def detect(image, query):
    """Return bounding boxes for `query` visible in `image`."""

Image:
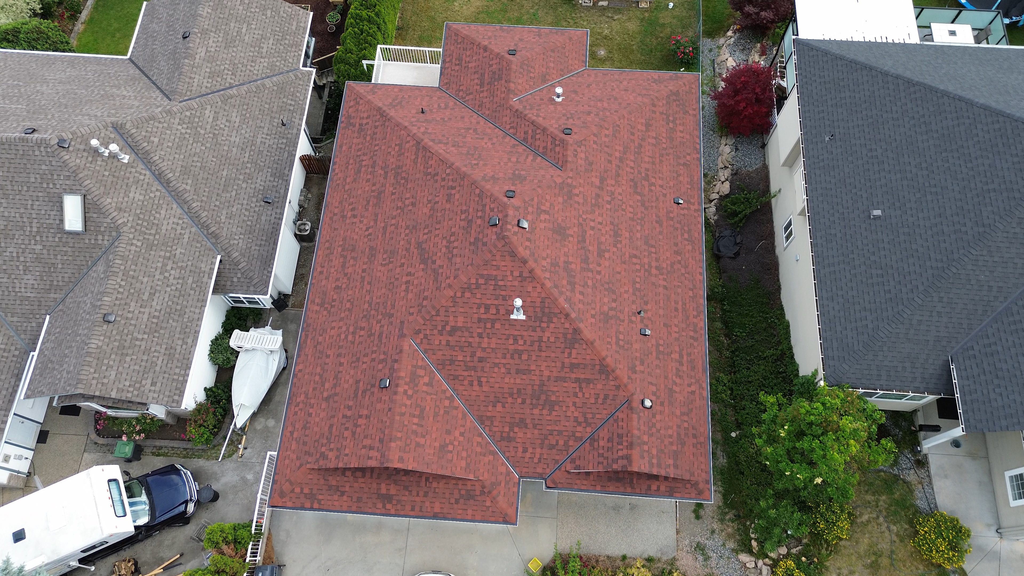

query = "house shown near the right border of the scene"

[766,0,1024,550]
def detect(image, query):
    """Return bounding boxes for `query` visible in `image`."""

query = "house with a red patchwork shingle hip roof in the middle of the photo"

[266,22,713,527]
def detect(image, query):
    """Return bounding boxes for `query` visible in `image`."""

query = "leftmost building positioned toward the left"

[0,0,322,511]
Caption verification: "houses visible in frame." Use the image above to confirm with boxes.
[0,0,322,511]
[766,0,1024,550]
[266,22,713,527]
